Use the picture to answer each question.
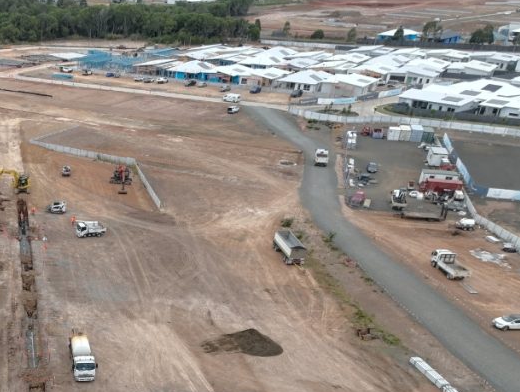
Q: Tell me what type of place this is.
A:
residential area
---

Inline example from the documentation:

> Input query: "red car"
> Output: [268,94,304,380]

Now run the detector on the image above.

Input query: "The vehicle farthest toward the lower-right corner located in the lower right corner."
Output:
[495,315,520,330]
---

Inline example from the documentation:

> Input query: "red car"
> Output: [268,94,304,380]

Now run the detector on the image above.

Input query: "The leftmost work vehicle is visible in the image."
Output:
[0,166,37,194]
